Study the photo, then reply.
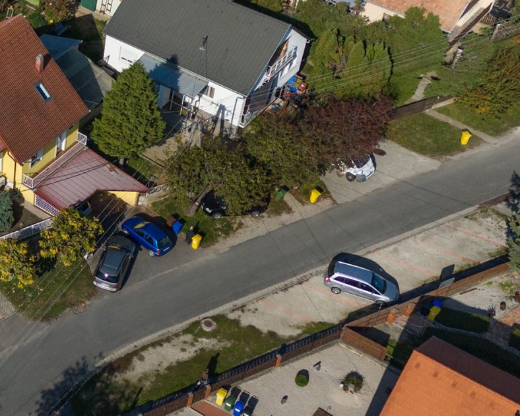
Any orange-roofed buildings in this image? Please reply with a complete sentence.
Yes, I can see an orange-roofed building in this picture.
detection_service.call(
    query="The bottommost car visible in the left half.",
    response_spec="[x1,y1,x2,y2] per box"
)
[89,236,135,294]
